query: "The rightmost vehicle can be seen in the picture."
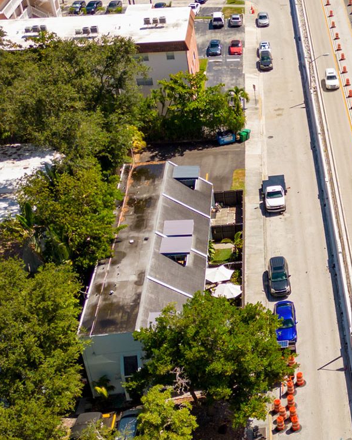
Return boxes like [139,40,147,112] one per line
[324,67,340,89]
